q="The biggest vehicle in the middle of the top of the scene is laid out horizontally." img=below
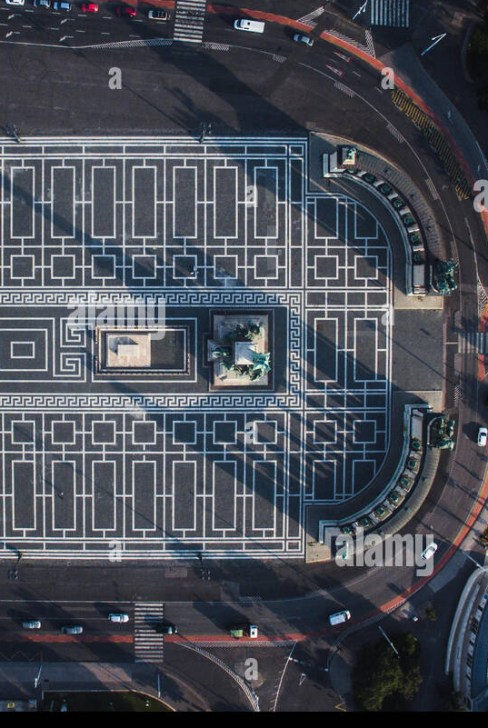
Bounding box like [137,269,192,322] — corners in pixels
[234,18,264,33]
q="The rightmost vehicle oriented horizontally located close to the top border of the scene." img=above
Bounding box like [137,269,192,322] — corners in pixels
[293,35,315,47]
